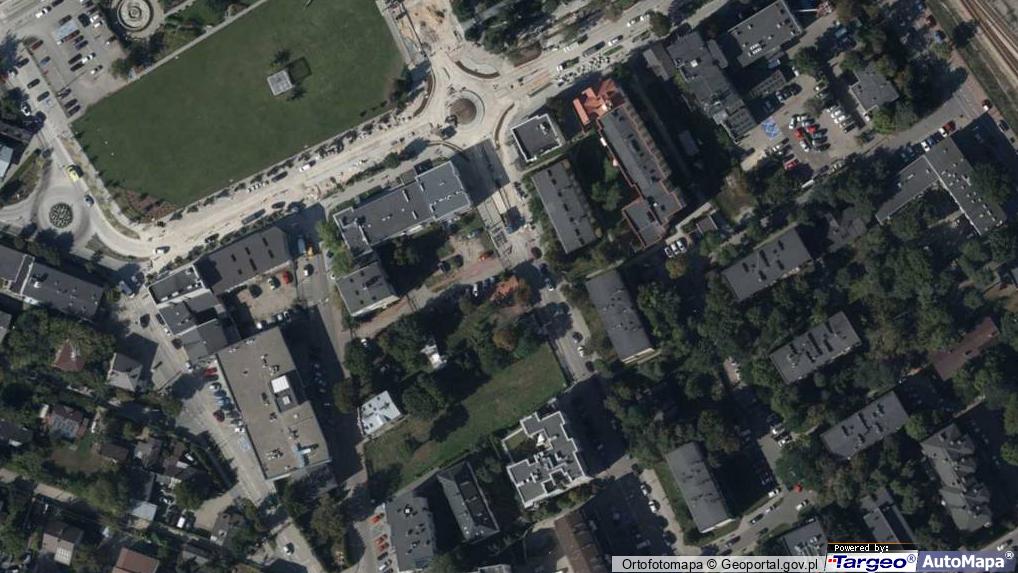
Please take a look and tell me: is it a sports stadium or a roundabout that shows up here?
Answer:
roundabout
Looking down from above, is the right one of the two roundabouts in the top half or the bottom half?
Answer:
top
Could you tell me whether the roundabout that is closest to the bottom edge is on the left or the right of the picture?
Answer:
left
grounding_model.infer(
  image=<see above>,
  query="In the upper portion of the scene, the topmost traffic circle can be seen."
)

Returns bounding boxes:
[424,72,503,150]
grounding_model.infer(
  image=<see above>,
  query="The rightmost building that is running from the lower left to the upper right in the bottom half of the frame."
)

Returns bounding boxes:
[936,316,1000,373]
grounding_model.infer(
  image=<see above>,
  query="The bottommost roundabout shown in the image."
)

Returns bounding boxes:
[27,181,95,251]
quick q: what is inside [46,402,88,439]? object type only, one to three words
house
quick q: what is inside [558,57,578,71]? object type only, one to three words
vehicle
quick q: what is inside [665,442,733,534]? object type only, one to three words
building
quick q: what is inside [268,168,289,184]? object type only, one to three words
vehicle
